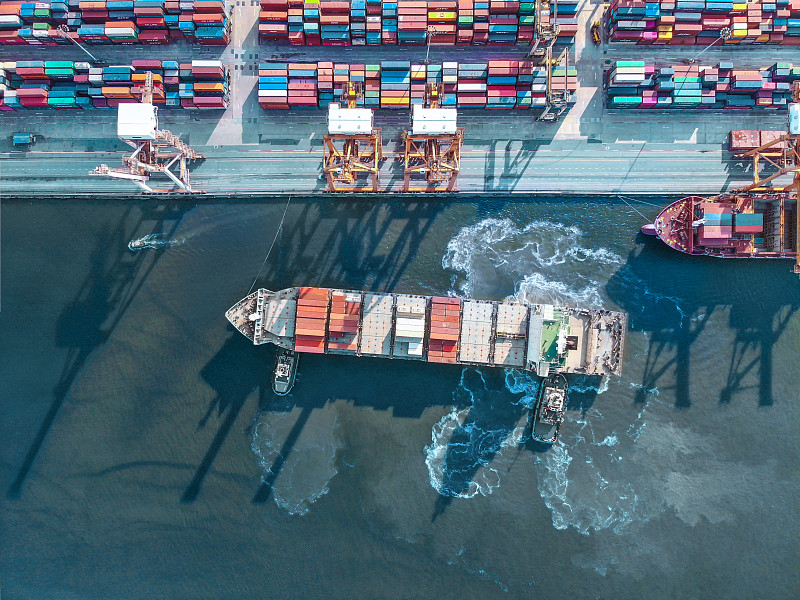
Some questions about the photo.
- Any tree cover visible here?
No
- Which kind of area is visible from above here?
port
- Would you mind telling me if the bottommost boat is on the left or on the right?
right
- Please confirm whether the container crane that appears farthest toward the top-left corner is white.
Yes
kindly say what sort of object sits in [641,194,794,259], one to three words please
ship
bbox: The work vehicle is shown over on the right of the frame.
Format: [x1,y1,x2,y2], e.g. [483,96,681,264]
[591,17,606,44]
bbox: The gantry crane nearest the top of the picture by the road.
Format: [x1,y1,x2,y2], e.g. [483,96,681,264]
[524,0,559,55]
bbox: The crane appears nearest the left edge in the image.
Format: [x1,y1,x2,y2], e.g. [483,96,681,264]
[82,79,207,191]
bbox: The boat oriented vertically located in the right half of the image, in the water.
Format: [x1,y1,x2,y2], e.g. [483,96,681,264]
[533,375,570,445]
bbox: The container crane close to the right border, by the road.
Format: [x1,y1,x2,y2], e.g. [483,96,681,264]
[729,80,800,277]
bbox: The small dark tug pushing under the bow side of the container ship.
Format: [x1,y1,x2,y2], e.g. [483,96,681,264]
[273,349,301,398]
